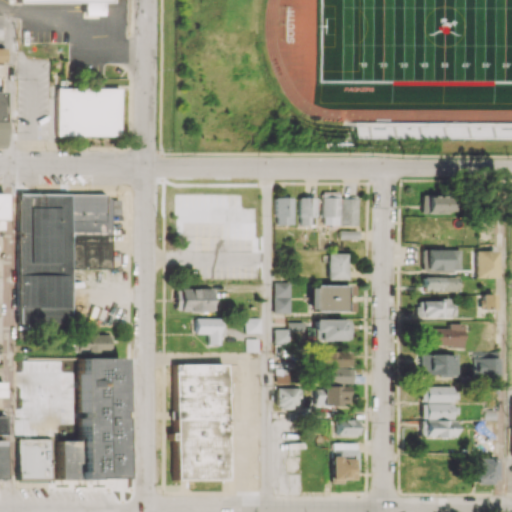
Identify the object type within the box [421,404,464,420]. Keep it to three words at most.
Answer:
house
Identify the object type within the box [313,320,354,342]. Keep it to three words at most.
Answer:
house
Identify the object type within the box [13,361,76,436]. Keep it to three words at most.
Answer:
building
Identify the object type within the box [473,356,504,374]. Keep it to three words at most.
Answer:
building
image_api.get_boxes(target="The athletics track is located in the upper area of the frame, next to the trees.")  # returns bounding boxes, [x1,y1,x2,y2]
[266,0,512,121]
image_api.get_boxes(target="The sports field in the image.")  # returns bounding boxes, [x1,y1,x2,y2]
[317,0,512,110]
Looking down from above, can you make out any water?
No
